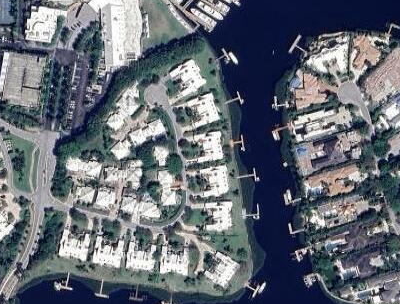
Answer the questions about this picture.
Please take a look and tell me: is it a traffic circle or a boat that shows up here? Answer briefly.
boat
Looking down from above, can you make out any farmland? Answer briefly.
No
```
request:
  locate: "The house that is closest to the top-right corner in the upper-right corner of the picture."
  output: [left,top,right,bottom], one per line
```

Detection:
[349,34,383,70]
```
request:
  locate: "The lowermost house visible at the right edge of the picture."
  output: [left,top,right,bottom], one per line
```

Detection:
[344,266,400,304]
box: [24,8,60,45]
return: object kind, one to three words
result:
building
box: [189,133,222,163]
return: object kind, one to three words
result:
house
